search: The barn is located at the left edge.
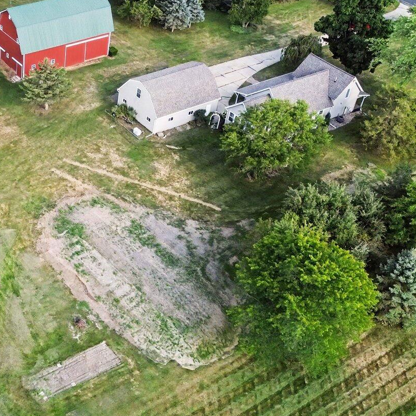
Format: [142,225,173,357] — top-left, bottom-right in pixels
[0,0,115,79]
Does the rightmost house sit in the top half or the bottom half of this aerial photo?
top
